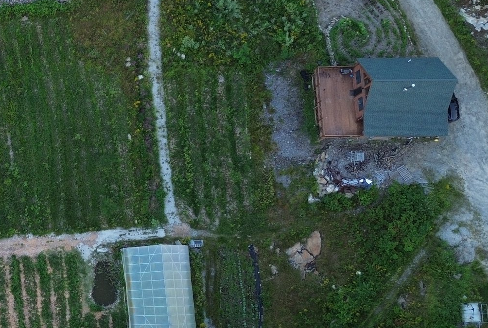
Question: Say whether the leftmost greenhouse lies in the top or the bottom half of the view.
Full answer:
It is in the bottom half that the leftmost greenhouse appears.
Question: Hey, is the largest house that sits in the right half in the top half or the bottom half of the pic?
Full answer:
You can find the largest house that sits in the right half in the top half.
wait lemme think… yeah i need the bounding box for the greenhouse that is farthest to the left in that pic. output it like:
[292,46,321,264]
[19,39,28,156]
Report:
[118,245,195,328]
